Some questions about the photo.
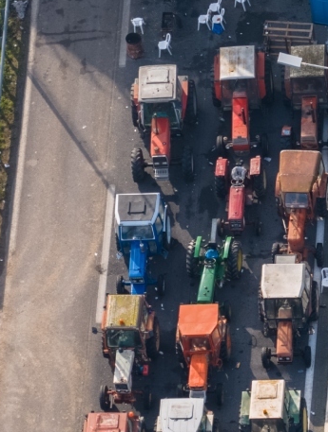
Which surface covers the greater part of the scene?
paved ground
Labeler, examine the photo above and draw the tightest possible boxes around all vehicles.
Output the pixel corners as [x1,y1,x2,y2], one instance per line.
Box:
[280,41,328,158]
[237,374,309,432]
[113,190,171,302]
[131,60,196,183]
[257,255,318,377]
[272,151,328,267]
[174,302,233,408]
[212,152,265,238]
[153,394,220,432]
[212,43,274,161]
[184,229,245,316]
[91,291,160,411]
[80,411,144,432]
